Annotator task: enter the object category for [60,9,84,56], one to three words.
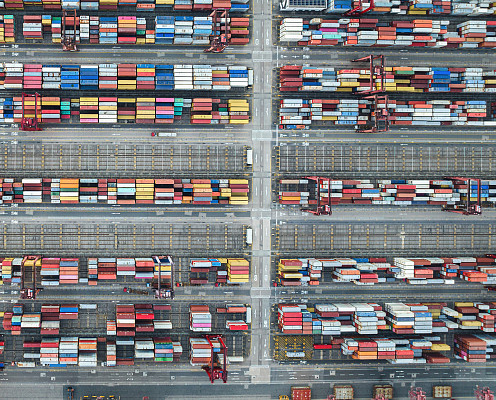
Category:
container crane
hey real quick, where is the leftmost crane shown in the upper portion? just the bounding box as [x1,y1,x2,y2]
[21,93,47,134]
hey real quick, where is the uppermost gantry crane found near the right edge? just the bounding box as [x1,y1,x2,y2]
[441,177,483,216]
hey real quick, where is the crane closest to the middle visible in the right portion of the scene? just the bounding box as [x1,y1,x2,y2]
[299,177,331,217]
